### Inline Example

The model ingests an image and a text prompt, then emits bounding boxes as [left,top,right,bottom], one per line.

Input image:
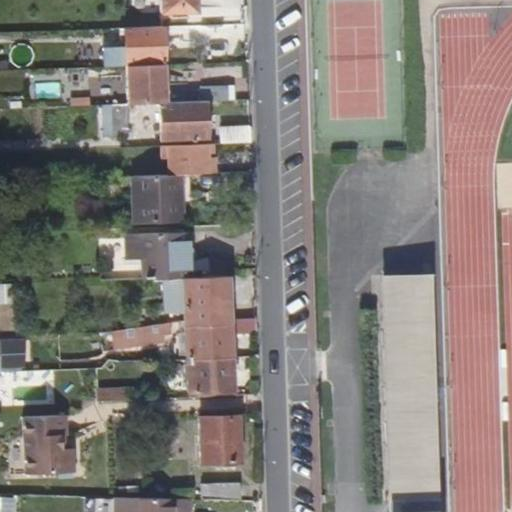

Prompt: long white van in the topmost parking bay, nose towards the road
[276,8,302,29]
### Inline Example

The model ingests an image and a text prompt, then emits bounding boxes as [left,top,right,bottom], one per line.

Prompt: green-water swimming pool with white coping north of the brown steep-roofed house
[10,383,50,404]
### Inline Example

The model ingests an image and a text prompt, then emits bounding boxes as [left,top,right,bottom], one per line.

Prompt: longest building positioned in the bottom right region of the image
[382,274,442,494]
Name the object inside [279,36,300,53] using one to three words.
vehicle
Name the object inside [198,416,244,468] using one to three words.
house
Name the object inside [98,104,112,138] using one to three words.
shed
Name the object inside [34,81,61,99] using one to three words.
swimming pool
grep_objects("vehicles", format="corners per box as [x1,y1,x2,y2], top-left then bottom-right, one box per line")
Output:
[279,36,300,53]
[291,418,312,432]
[291,446,313,462]
[292,462,312,478]
[282,74,302,90]
[286,297,309,315]
[290,432,312,446]
[288,309,309,326]
[284,248,306,266]
[276,8,302,29]
[294,502,316,512]
[268,350,279,373]
[287,272,308,288]
[284,153,304,170]
[198,178,218,188]
[290,406,312,420]
[288,259,308,276]
[281,86,302,102]
[294,486,315,502]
